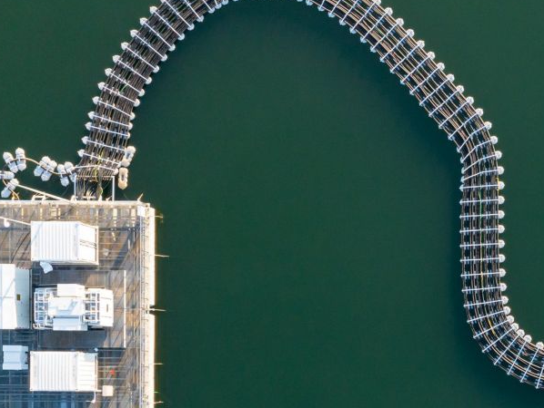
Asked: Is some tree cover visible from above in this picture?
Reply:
No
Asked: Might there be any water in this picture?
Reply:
Yes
